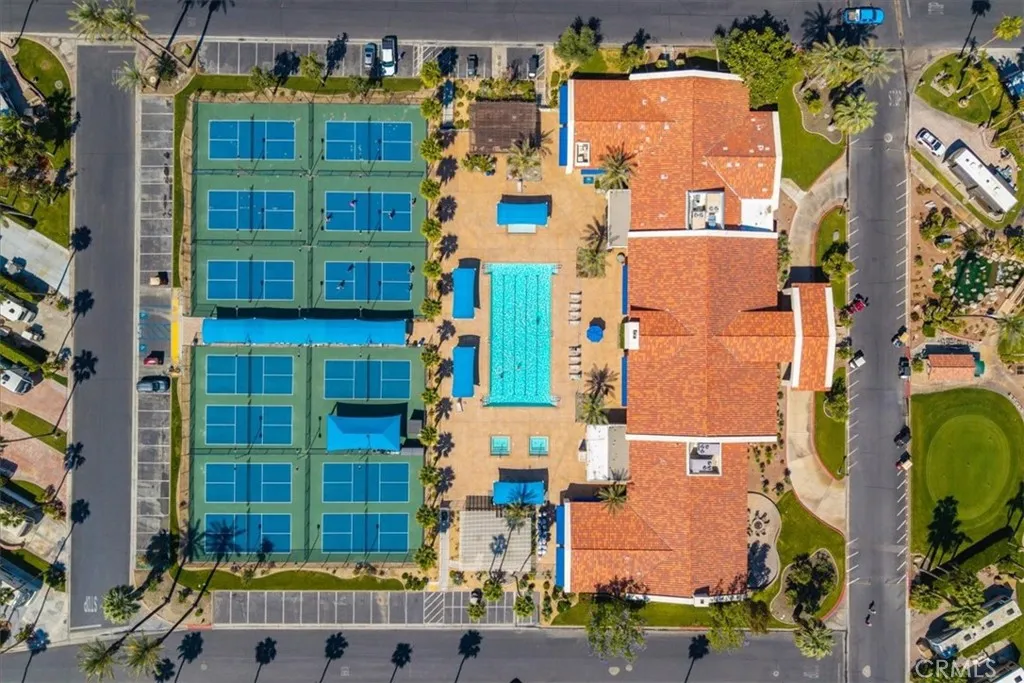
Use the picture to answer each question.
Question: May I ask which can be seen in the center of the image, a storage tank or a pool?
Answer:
pool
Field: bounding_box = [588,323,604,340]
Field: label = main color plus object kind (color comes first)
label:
blue umbrella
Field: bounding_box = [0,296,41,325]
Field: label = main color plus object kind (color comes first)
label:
white camper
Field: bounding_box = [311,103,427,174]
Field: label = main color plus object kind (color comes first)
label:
green sports court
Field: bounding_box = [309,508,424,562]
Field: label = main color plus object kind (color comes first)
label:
blue sports court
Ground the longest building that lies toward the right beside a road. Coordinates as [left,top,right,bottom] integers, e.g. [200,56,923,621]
[556,69,843,609]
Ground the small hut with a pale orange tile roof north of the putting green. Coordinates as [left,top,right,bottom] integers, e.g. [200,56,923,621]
[919,346,985,384]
